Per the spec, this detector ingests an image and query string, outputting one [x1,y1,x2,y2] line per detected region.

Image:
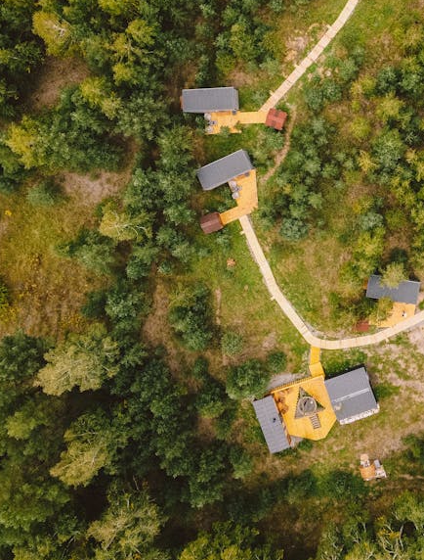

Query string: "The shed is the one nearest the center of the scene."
[201,212,225,234]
